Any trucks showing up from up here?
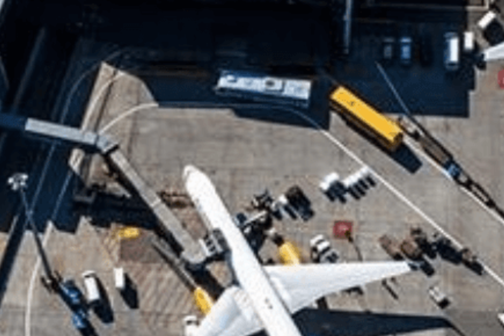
Yes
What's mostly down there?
paved ground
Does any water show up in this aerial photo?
No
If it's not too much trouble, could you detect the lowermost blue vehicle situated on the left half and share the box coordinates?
[71,312,95,336]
